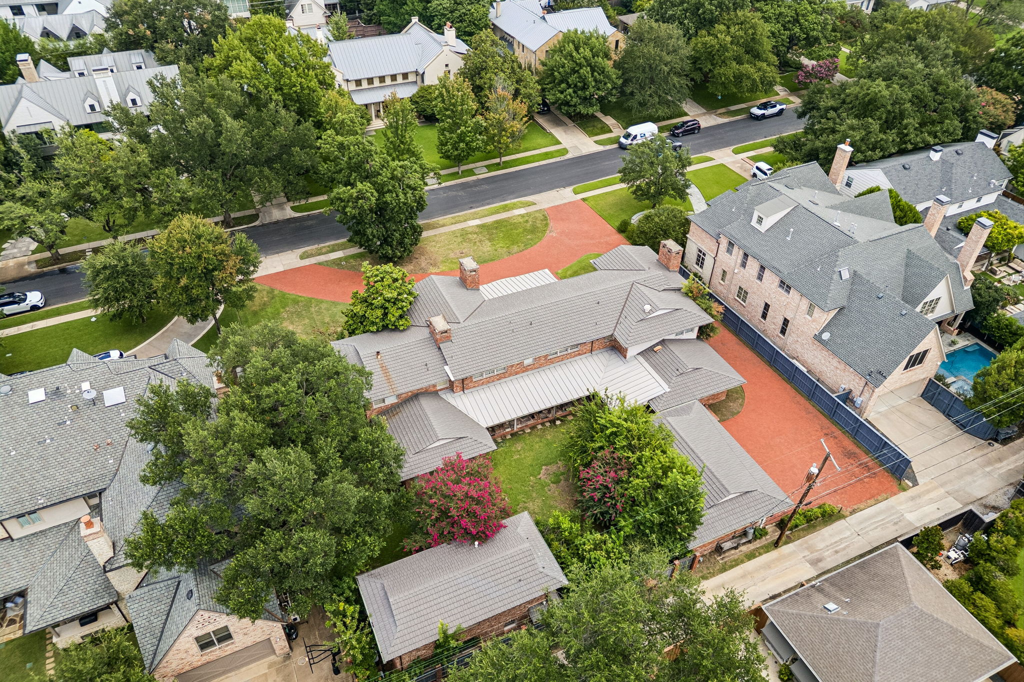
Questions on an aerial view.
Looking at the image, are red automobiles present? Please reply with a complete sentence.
No, the photo shows no red automobile.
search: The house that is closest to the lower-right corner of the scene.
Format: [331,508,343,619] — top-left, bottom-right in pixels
[758,540,1024,682]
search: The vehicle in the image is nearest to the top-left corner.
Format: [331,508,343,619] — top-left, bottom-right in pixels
[0,288,48,318]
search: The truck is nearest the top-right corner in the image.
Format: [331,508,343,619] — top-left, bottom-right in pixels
[752,100,790,121]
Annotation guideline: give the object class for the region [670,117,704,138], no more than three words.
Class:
car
